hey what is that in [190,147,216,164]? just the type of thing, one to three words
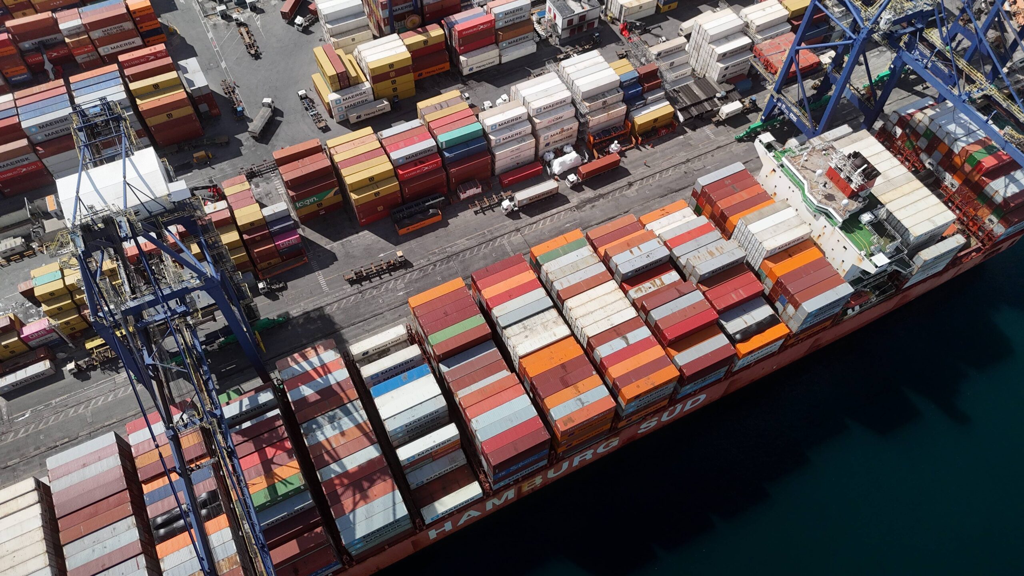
vehicle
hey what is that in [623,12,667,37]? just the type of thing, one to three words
work vehicle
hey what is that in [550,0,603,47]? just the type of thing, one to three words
building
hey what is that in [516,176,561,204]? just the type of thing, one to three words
shipping container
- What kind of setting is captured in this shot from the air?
port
